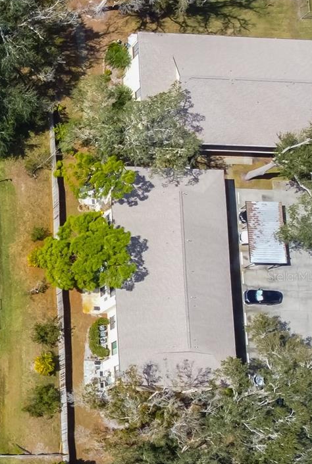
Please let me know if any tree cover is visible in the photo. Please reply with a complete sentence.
Yes, there is tree cover in the image.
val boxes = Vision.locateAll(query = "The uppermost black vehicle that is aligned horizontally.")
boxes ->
[244,288,281,306]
